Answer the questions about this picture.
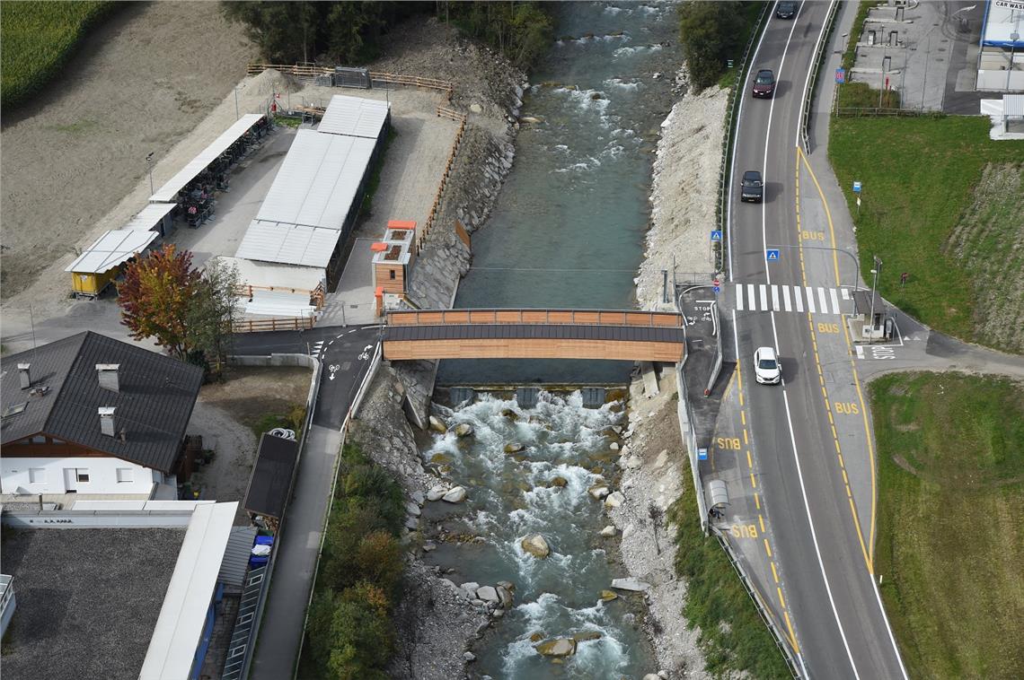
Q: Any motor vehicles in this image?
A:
Yes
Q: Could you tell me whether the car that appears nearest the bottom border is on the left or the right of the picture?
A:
right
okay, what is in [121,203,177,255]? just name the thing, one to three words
shed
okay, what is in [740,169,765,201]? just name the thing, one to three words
car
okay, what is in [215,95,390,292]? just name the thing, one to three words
building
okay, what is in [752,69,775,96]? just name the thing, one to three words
car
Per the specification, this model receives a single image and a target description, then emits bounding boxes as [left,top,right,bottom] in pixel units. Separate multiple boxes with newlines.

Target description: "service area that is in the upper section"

[846,4,912,85]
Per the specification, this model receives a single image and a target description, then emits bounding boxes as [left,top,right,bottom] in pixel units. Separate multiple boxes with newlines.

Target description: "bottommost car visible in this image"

[754,347,784,386]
